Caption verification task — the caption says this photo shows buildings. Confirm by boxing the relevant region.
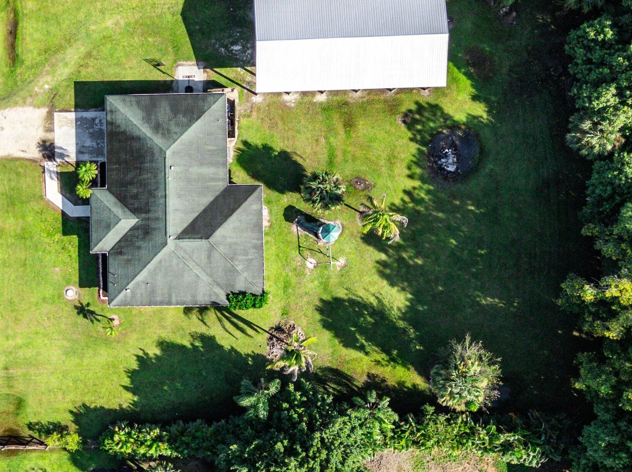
[252,0,449,100]
[89,92,265,308]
